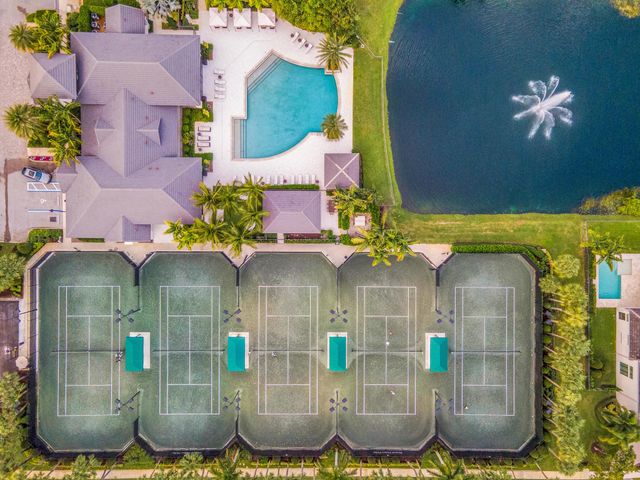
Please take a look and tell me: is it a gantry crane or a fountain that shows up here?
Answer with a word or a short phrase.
fountain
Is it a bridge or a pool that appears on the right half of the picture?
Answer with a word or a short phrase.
pool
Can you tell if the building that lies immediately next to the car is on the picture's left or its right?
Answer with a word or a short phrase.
left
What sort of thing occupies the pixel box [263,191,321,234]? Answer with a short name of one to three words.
building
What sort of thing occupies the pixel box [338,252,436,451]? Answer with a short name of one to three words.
tennis court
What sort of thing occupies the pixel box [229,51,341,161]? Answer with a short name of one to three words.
swimming pool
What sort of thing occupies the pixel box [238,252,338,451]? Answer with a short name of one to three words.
tennis court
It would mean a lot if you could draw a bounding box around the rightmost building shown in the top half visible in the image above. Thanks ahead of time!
[324,152,360,189]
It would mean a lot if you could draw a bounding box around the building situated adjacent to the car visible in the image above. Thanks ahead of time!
[52,6,206,241]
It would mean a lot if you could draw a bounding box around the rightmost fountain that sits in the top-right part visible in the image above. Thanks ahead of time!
[511,72,575,142]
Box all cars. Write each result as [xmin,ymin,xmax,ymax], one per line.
[20,166,51,183]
